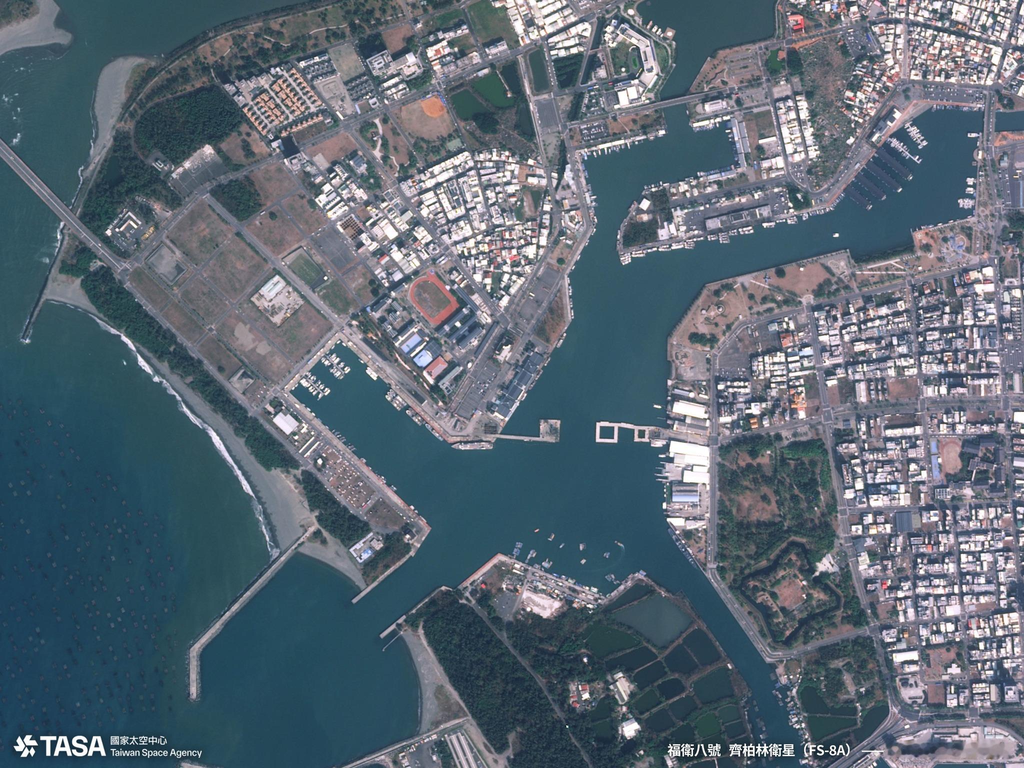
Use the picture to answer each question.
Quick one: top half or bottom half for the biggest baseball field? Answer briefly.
top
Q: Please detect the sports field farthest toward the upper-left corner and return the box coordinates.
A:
[282,246,327,289]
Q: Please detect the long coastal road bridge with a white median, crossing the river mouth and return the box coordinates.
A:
[0,142,129,269]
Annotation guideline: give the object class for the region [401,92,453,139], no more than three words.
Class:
baseball field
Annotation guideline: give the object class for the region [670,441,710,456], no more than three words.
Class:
building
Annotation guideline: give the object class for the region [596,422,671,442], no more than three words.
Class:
pier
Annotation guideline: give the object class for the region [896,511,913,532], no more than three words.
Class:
building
